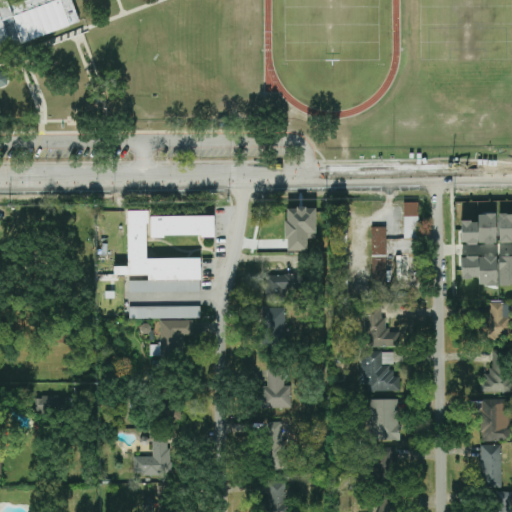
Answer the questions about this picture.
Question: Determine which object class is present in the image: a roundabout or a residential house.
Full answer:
The one in the frame is a residential house.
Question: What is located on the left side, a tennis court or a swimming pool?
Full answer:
It is a swimming pool that can be seen on the left side.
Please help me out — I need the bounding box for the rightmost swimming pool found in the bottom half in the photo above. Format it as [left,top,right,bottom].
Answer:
[117,428,152,456]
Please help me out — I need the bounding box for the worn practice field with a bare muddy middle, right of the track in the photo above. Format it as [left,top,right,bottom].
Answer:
[421,0,512,60]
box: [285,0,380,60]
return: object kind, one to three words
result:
sports field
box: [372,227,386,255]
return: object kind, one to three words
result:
building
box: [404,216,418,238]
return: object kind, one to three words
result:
shed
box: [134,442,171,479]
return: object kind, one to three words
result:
house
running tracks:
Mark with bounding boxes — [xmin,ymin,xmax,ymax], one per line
[264,0,400,118]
